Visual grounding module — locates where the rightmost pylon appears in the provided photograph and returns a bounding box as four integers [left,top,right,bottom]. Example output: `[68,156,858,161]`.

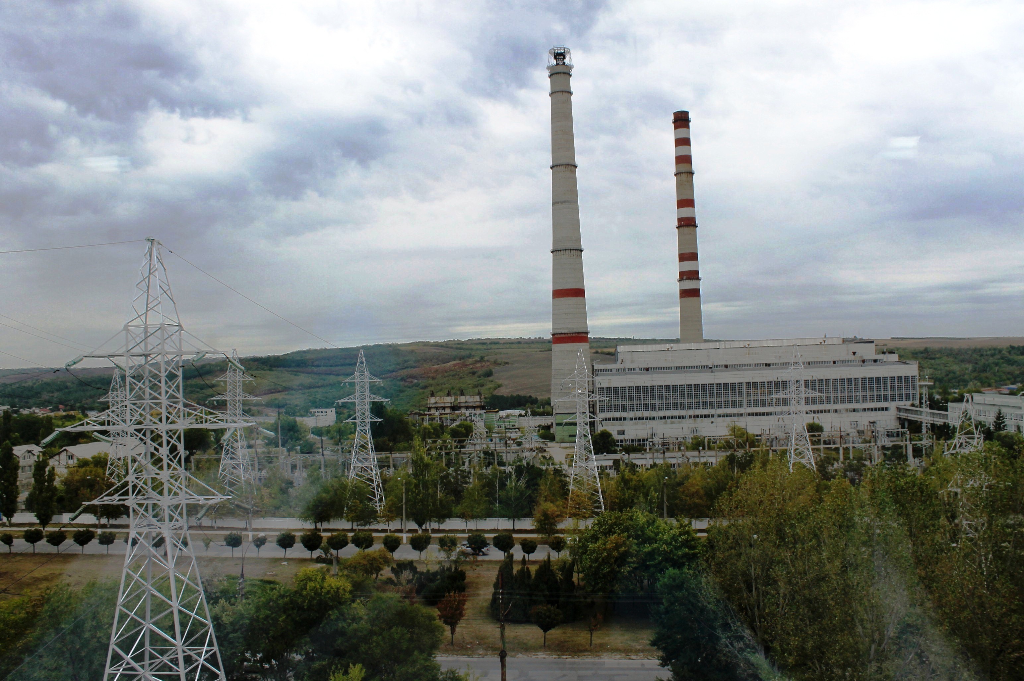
[932,394,1012,493]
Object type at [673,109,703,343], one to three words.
chimney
